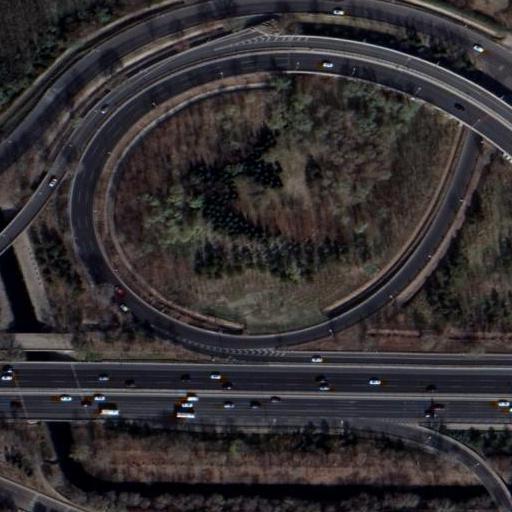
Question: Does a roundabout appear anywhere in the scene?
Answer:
No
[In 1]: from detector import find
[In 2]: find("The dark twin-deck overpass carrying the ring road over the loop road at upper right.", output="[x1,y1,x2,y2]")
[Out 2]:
[429,66,512,159]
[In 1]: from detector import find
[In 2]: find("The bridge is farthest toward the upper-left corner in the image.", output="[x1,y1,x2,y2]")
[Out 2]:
[0,170,54,252]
